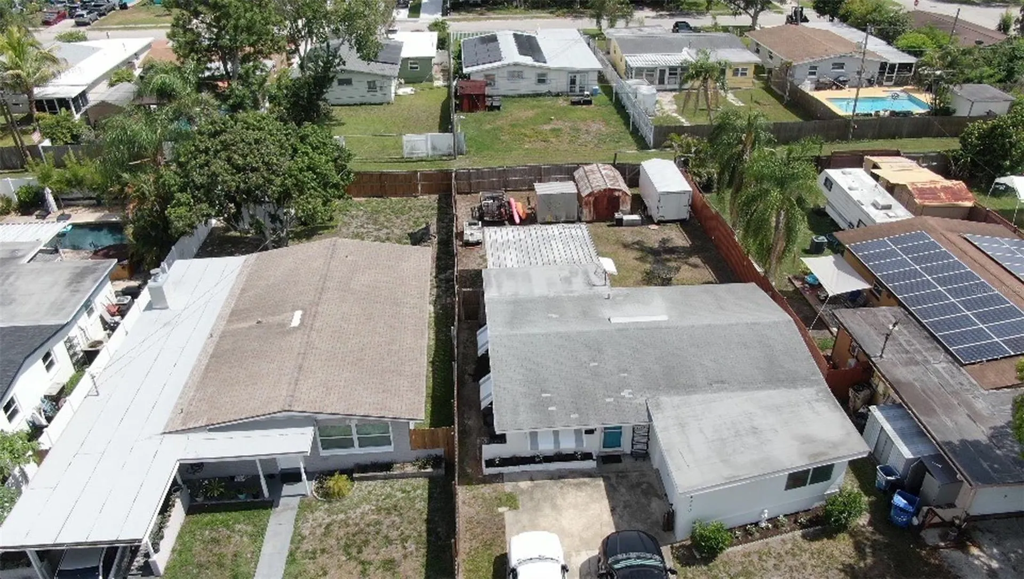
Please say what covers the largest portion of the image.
buildings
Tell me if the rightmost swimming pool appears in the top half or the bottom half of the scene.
top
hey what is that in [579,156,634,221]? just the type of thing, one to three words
shed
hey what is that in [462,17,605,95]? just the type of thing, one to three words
house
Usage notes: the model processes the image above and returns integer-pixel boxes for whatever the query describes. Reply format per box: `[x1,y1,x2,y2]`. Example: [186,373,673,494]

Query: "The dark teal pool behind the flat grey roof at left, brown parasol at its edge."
[41,219,115,254]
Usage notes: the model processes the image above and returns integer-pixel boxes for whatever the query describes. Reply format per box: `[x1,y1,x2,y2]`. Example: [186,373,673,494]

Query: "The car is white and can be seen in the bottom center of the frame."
[503,530,584,579]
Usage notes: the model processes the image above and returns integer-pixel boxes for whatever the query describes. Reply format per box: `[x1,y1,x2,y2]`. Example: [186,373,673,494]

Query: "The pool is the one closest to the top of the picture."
[823,91,933,115]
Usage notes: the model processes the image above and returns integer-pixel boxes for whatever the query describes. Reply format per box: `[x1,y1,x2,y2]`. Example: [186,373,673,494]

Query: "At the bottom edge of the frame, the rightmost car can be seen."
[598,528,675,579]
